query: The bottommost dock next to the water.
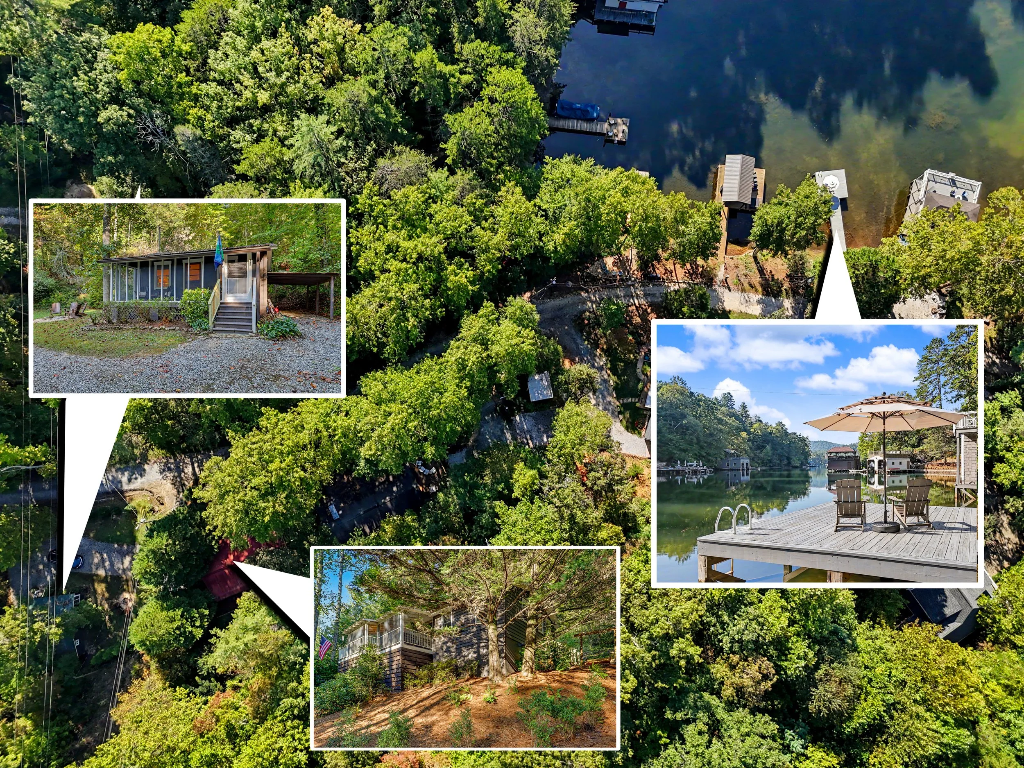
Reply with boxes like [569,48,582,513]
[814,169,849,202]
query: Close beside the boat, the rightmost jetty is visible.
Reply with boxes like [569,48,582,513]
[605,113,628,144]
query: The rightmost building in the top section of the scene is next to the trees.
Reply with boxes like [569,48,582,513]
[888,169,981,229]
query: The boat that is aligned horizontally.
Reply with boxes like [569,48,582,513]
[553,101,599,120]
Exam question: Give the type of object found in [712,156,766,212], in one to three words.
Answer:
building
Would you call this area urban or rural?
rural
